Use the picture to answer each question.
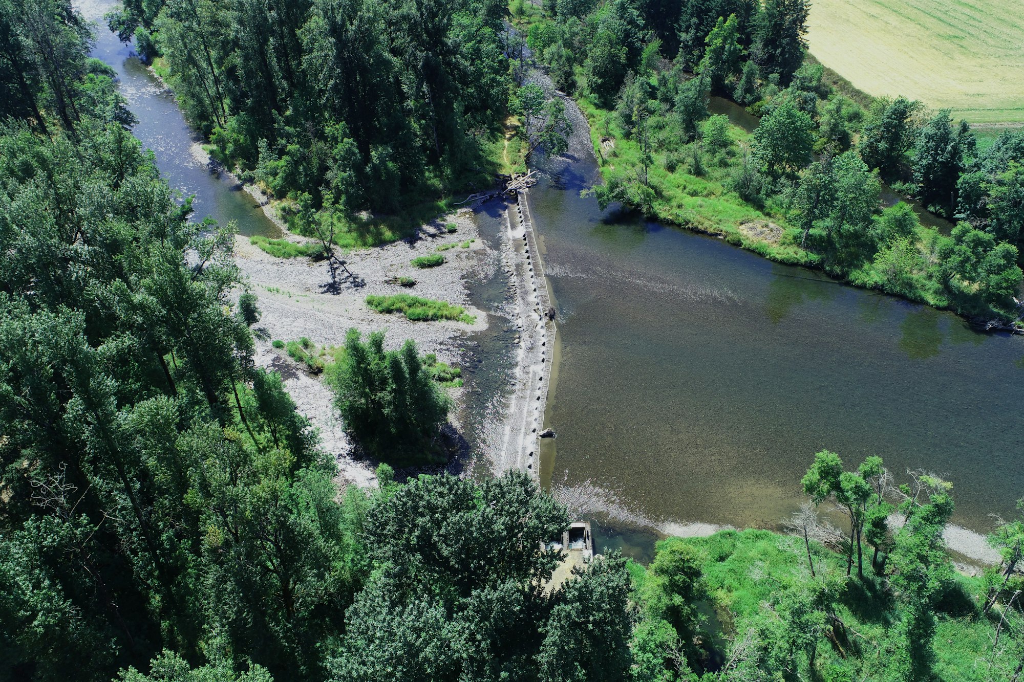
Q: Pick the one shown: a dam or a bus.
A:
dam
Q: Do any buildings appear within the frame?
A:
No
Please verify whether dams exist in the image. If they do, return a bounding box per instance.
[495,187,557,515]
